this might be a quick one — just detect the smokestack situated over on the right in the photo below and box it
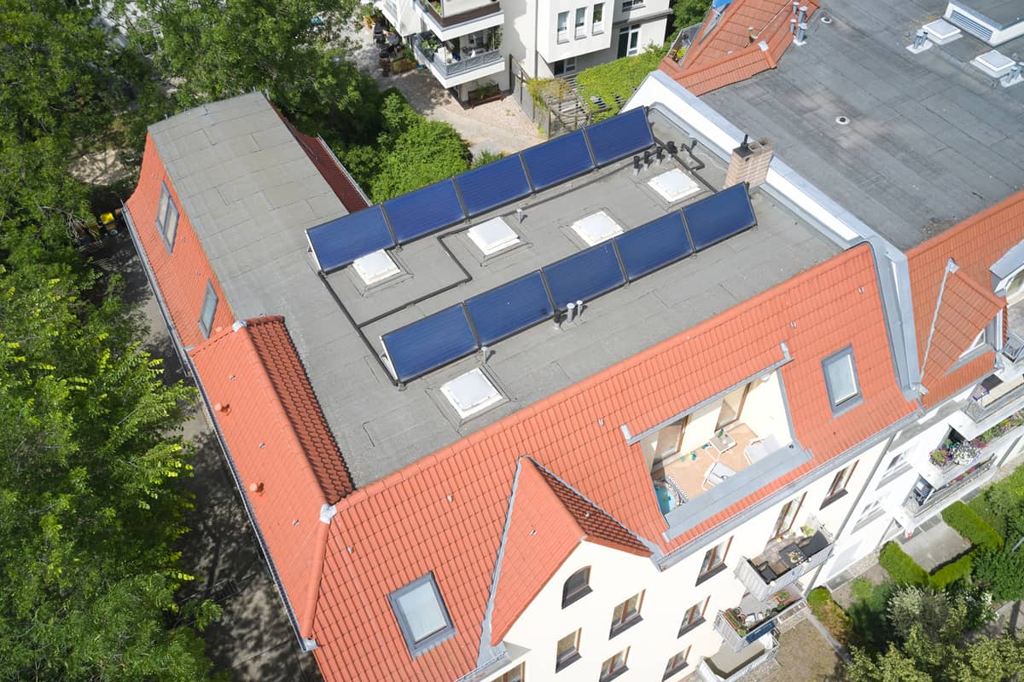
[721,136,765,190]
